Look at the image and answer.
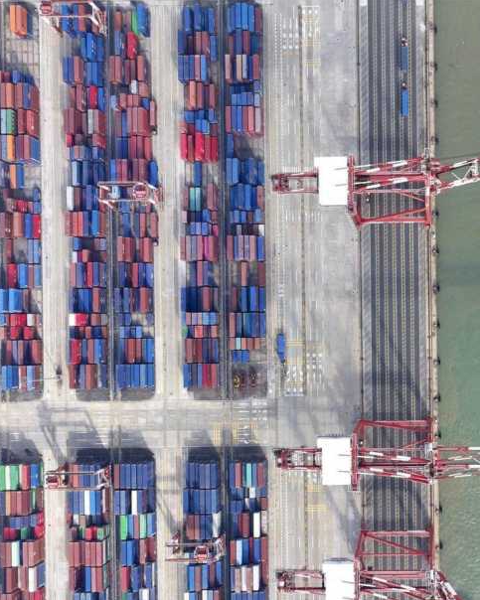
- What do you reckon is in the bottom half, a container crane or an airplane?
container crane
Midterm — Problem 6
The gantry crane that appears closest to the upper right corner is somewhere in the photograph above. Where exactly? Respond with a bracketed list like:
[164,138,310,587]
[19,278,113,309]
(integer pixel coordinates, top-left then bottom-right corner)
[272,151,480,244]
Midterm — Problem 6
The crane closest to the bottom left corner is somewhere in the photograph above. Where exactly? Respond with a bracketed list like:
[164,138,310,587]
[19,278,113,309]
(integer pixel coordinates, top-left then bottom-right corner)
[39,455,117,491]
